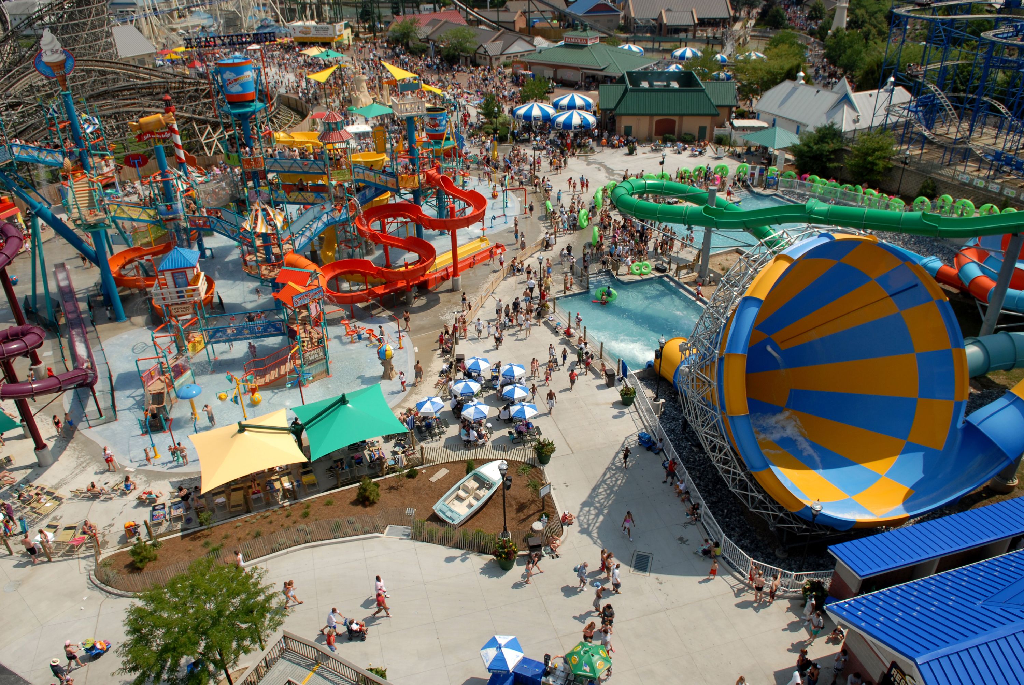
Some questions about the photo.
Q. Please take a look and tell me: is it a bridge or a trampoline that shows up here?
bridge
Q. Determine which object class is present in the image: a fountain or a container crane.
fountain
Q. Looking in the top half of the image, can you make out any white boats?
No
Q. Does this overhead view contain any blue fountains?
Yes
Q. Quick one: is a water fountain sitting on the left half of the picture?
Yes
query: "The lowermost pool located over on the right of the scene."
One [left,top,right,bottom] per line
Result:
[560,273,724,368]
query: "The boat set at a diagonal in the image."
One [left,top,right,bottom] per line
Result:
[432,462,509,524]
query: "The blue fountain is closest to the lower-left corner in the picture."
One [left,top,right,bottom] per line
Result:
[175,385,204,422]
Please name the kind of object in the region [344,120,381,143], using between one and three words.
building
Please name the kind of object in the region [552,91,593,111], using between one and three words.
umbrella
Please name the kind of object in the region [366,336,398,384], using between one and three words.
fountain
